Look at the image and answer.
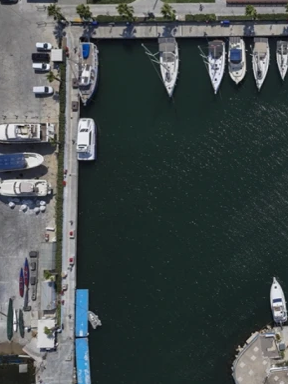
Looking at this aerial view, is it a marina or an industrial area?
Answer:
marina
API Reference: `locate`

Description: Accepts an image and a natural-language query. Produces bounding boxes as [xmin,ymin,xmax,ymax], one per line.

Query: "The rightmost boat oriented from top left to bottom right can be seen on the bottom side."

[88,313,102,329]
